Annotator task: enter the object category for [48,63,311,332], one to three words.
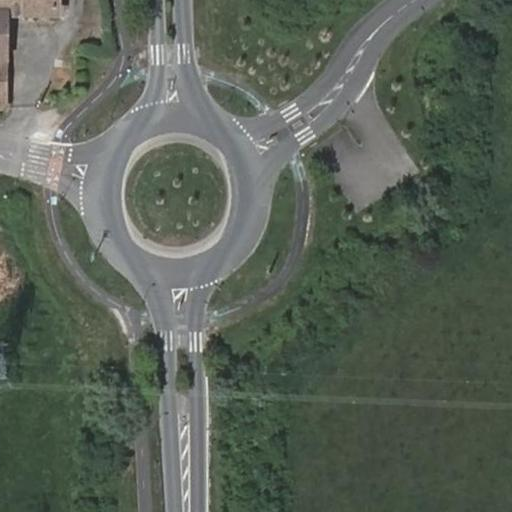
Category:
roundabout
